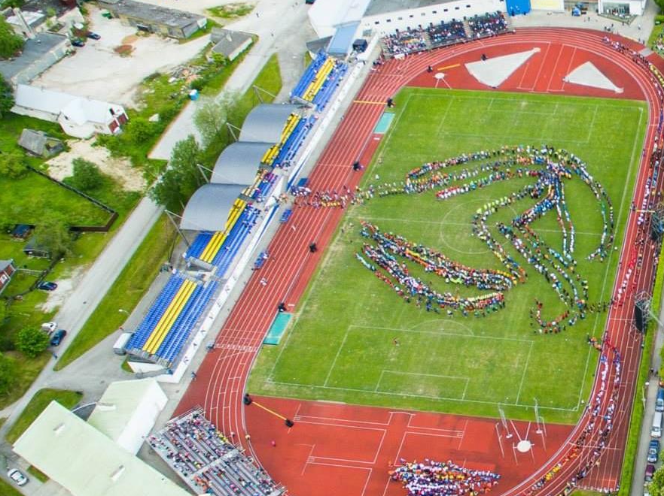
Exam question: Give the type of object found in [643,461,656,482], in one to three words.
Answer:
vehicle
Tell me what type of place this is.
sports ground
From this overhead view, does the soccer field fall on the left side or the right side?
right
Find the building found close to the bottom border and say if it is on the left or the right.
left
